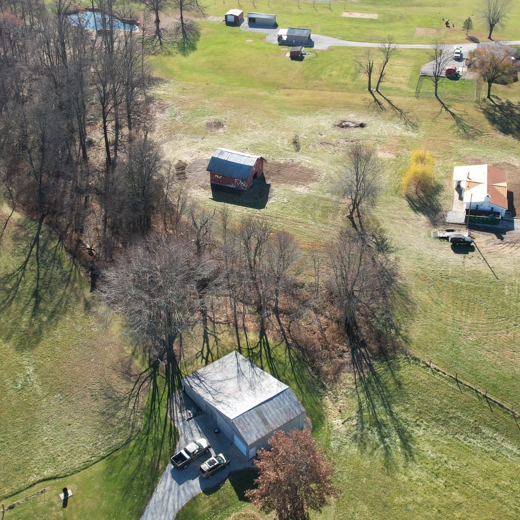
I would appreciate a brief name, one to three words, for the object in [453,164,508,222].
house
